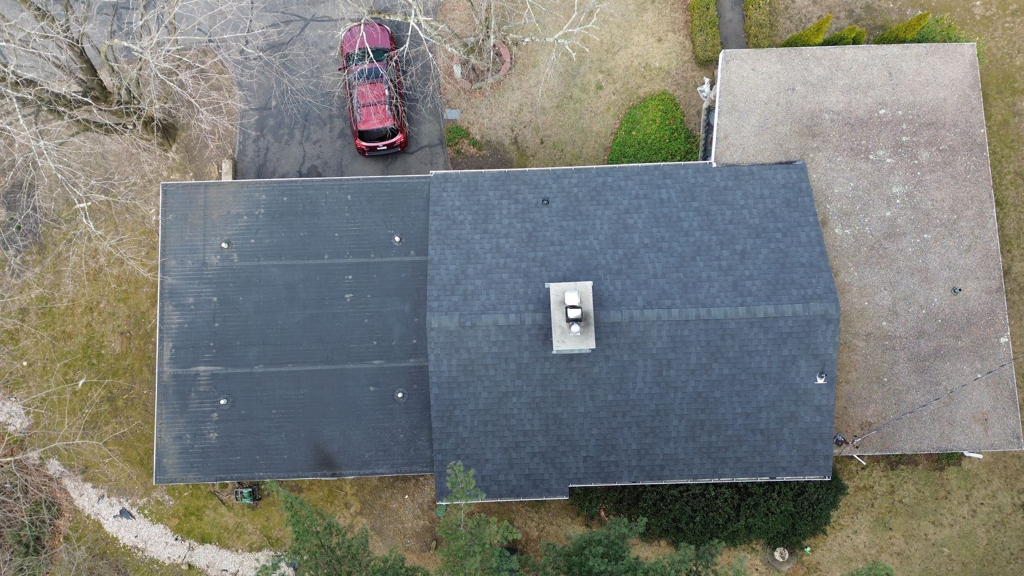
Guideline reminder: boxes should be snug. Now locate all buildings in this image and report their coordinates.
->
[154,43,1024,506]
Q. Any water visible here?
No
